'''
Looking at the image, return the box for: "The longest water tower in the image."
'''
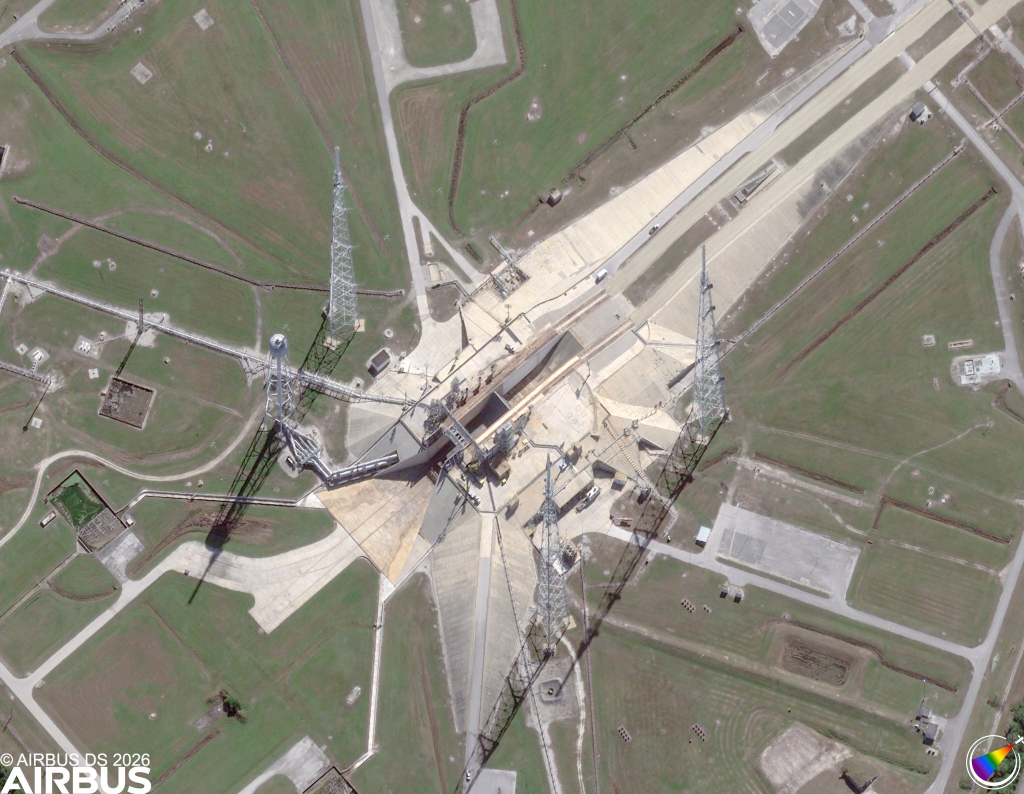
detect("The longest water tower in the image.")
[261,336,299,438]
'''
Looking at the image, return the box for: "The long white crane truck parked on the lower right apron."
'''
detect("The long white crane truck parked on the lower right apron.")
[576,489,598,513]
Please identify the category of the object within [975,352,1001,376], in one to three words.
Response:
building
